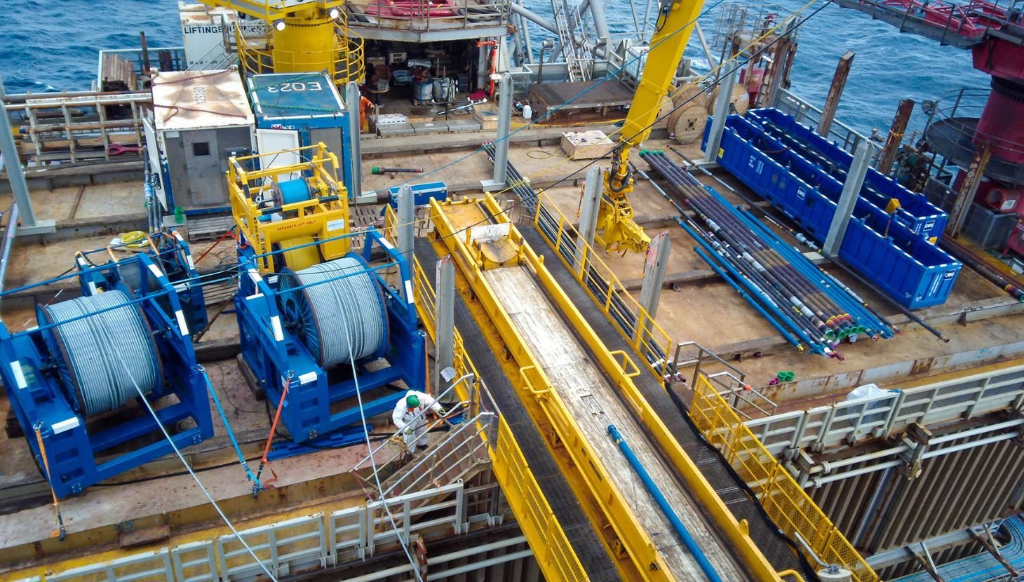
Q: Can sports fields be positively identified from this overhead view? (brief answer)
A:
No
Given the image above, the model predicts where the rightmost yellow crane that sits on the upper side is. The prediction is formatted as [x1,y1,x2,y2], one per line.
[578,0,700,243]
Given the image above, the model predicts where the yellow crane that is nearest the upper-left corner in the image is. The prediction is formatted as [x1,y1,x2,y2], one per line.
[228,0,370,95]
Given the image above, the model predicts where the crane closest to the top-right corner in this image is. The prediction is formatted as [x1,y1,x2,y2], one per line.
[889,3,1024,253]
